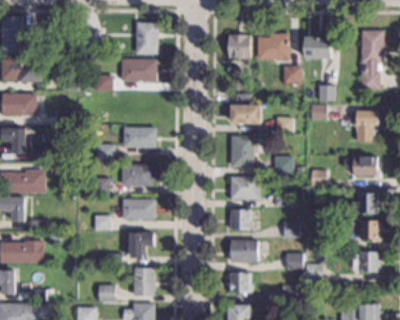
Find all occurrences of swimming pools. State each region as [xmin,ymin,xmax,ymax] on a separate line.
[31,272,45,286]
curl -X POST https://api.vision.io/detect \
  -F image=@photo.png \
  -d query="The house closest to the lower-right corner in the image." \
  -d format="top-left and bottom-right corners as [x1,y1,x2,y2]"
[359,304,382,320]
